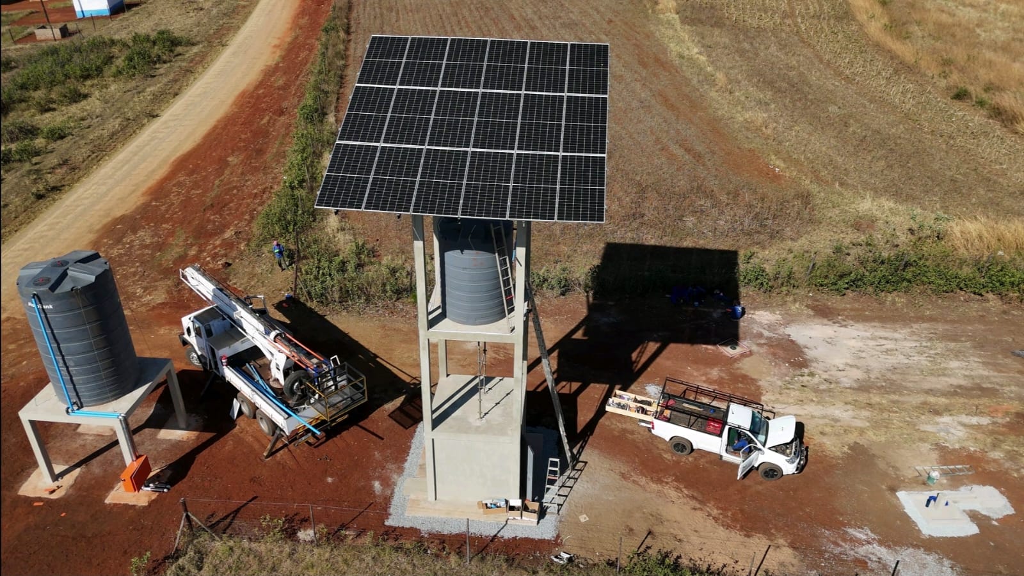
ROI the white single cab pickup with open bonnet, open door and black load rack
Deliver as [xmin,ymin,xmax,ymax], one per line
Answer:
[606,378,807,483]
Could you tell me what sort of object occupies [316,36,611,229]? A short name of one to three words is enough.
solar array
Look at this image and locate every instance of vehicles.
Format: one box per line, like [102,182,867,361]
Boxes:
[606,378,807,483]
[178,261,354,461]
